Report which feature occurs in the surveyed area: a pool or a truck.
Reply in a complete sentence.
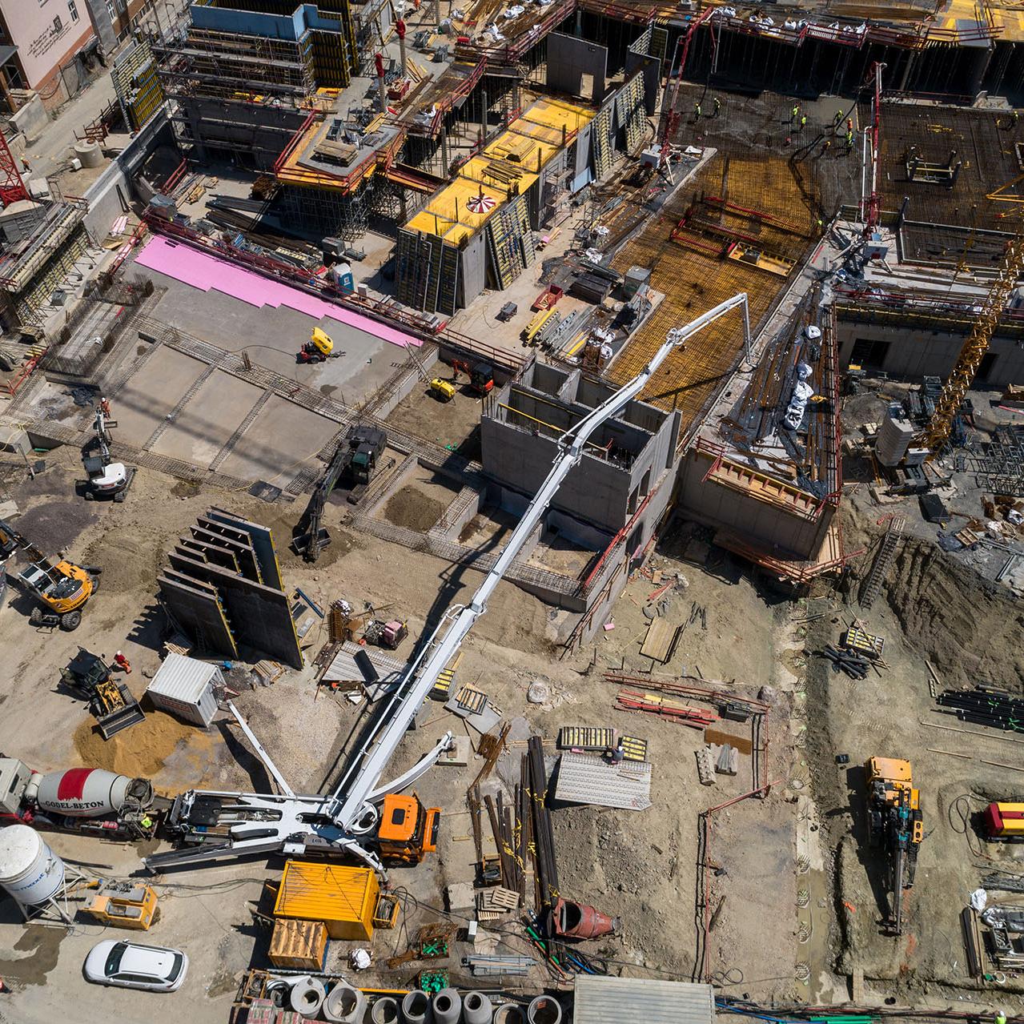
The image shows a truck.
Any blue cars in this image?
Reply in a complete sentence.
No, no blue car can be seen from above.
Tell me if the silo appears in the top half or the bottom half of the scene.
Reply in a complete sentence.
You can find the silo in the bottom half.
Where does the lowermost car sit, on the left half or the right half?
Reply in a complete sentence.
You can find the lowermost car on the left side of the picture.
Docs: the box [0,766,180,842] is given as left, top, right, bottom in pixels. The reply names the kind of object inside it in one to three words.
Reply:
truck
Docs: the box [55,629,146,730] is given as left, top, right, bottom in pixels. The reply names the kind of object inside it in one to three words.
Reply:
work vehicle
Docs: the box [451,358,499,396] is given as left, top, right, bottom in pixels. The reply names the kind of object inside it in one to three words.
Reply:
work vehicle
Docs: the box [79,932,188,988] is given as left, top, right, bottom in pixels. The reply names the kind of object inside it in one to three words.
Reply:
car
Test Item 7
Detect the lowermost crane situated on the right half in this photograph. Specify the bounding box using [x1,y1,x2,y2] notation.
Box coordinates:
[859,176,1024,501]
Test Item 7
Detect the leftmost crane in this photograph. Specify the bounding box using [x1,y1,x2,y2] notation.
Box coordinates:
[0,124,20,208]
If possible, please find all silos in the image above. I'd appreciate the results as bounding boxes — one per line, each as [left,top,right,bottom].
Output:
[0,829,76,924]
